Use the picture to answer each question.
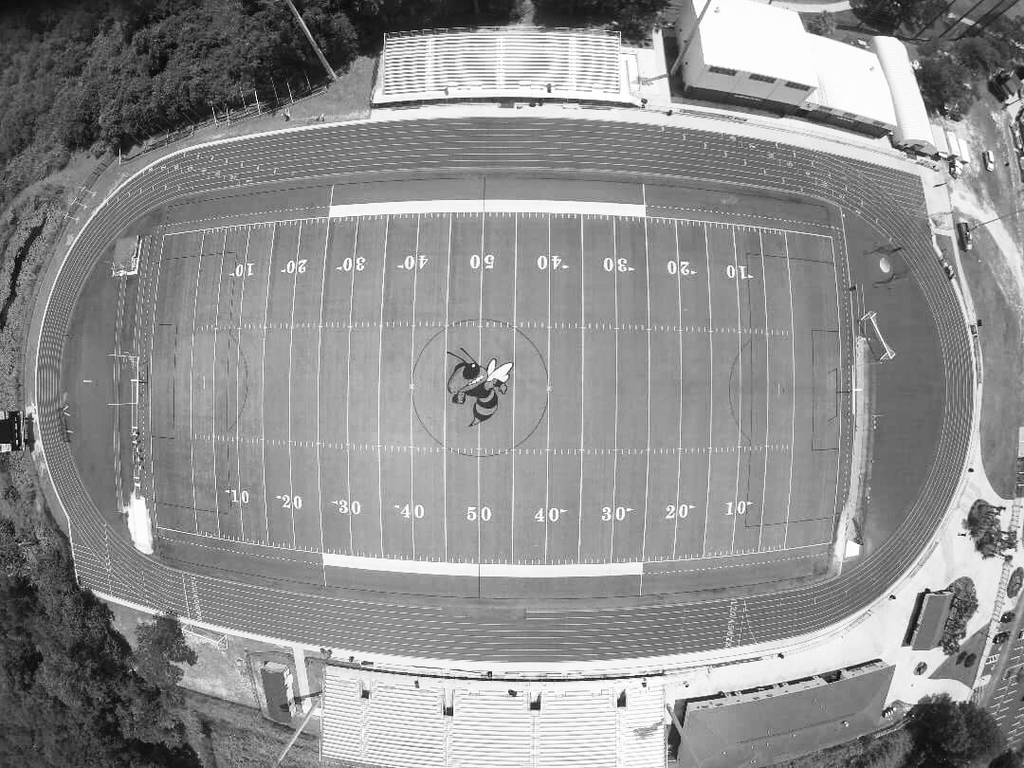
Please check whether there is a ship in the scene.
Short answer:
No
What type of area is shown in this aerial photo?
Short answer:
sports ground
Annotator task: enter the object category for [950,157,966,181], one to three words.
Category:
vehicle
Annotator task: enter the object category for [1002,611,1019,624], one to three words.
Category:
vehicle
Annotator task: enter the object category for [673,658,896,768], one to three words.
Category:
building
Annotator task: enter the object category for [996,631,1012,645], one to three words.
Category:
car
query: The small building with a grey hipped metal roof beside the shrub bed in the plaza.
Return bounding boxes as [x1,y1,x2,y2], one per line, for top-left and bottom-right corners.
[895,589,954,652]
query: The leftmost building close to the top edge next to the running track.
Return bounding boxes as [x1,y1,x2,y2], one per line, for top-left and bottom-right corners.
[673,0,821,112]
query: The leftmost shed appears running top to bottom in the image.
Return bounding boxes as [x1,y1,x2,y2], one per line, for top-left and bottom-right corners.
[262,653,298,722]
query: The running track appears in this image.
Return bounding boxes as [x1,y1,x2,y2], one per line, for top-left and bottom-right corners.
[35,114,977,669]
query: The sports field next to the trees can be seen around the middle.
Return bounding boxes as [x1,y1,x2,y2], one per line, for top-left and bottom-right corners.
[139,174,853,604]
